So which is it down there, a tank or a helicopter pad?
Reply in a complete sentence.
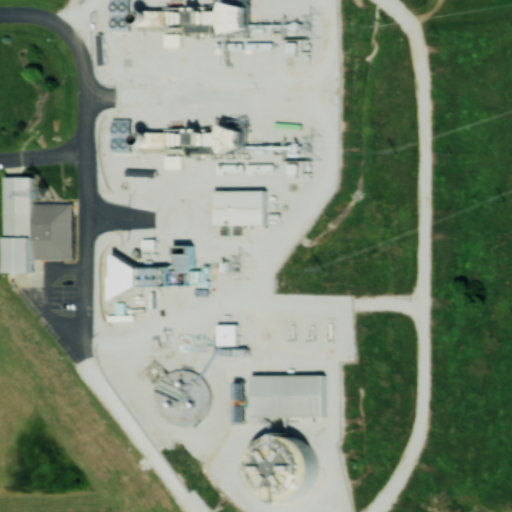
The image shows a tank.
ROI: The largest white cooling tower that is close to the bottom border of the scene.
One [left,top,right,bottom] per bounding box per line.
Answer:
[240,428,317,502]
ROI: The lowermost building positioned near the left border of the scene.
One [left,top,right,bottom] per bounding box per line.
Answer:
[0,238,32,273]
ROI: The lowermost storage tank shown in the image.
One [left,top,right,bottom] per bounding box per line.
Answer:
[154,367,212,427]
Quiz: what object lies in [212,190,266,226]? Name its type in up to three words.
building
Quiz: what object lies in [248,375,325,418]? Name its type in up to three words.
building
